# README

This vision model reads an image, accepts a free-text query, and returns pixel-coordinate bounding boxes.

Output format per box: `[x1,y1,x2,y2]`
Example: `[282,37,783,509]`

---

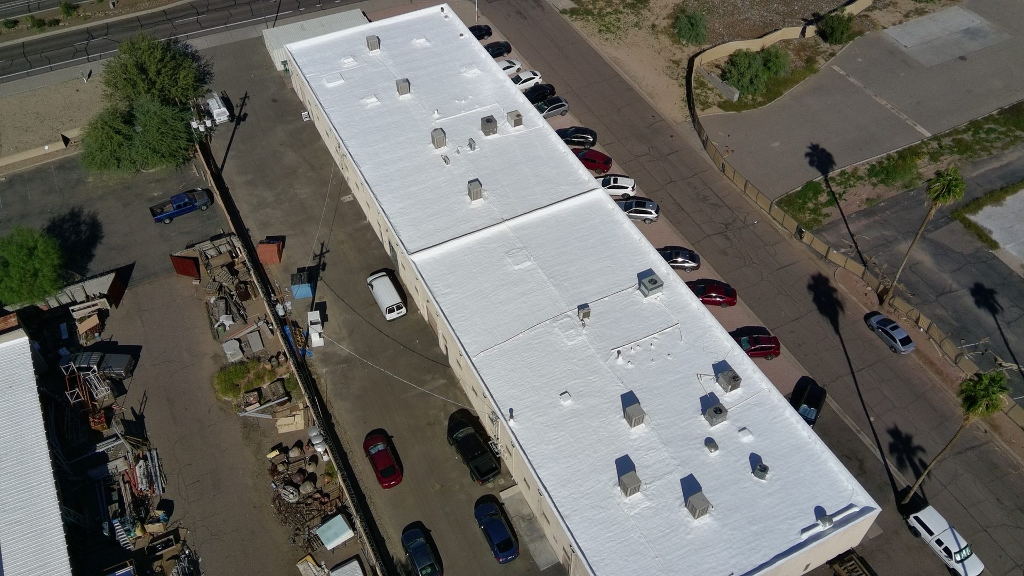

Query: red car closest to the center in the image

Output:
[573,148,614,172]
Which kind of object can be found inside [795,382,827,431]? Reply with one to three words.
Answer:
car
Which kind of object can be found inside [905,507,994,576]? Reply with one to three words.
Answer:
truck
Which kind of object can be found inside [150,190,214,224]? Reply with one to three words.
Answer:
truck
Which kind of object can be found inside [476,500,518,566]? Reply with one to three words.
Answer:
car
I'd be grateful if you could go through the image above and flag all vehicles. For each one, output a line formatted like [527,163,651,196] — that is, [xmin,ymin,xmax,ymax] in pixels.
[573,148,614,172]
[660,248,701,274]
[558,128,597,149]
[150,190,214,224]
[405,527,445,576]
[865,311,919,356]
[365,433,404,491]
[795,382,827,431]
[476,500,518,566]
[64,349,134,383]
[599,177,636,201]
[525,86,558,106]
[513,72,545,92]
[690,282,738,309]
[499,61,524,76]
[206,88,231,125]
[905,507,994,576]
[539,101,572,122]
[365,270,409,324]
[450,416,503,489]
[731,331,782,360]
[619,200,660,225]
